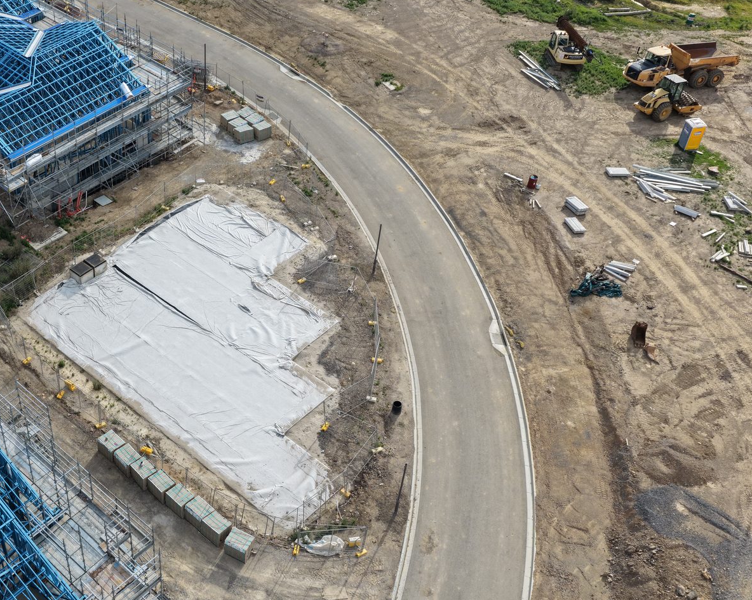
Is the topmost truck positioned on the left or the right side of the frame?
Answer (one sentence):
The topmost truck sits on the right side.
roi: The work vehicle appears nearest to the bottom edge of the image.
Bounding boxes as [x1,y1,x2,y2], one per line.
[633,77,712,123]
